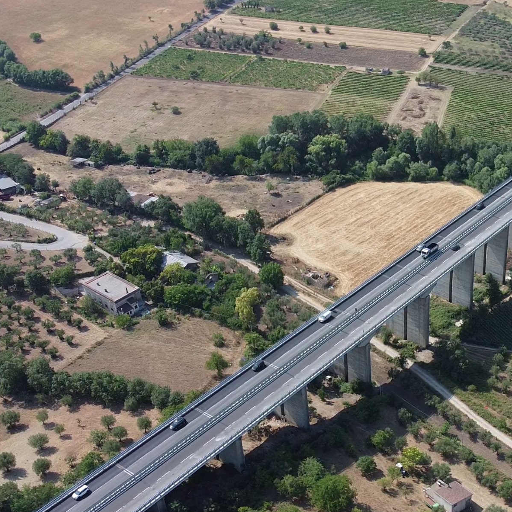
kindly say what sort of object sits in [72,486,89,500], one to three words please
car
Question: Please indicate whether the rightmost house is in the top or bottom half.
bottom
